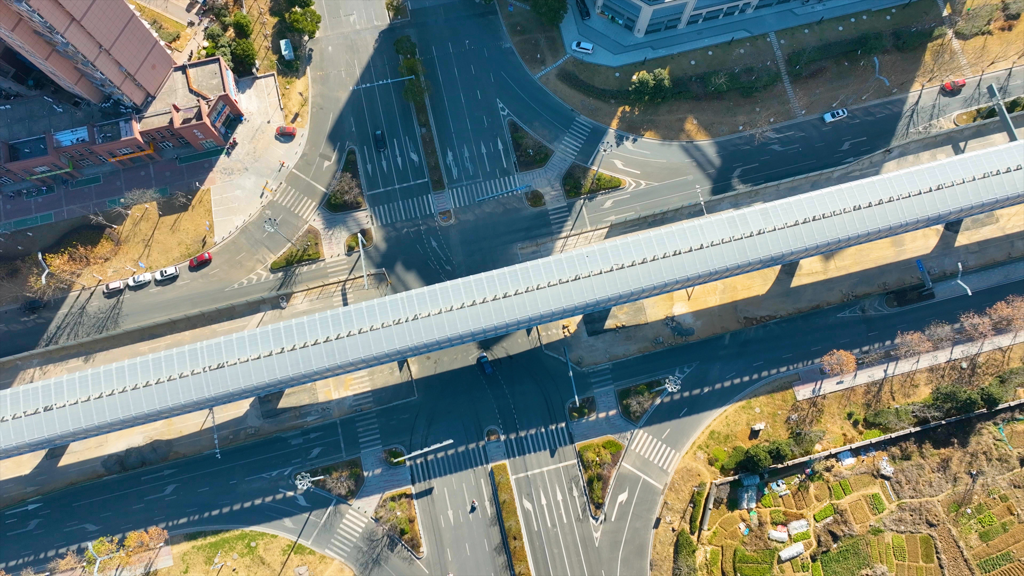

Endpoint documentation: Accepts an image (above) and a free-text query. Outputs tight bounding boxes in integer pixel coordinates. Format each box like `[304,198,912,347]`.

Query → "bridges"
[0,135,1024,460]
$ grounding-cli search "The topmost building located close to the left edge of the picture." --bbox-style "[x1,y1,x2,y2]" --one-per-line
[0,0,174,108]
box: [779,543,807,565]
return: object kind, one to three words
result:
greenhouse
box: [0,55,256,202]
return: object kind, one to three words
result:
building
